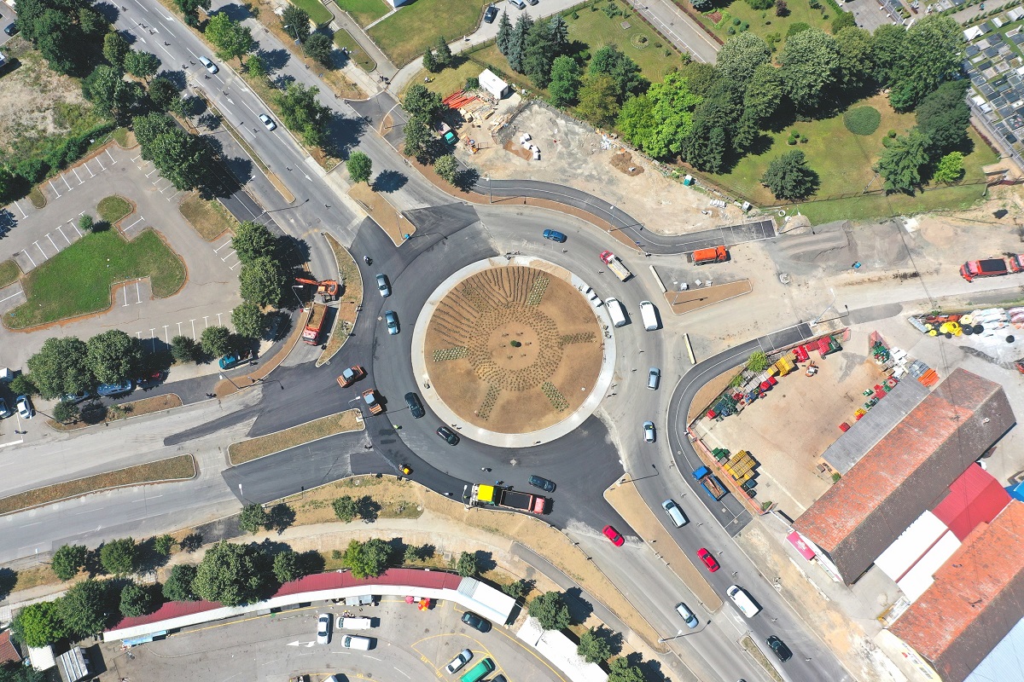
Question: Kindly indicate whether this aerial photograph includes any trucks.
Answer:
Yes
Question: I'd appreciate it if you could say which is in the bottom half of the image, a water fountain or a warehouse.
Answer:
warehouse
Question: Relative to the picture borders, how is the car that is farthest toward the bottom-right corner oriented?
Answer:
diagonally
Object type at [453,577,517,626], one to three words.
building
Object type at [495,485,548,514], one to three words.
truck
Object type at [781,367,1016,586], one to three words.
warehouse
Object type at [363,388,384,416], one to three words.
work vehicle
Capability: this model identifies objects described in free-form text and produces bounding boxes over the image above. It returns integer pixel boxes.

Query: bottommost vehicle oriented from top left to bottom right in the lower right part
[767,634,793,665]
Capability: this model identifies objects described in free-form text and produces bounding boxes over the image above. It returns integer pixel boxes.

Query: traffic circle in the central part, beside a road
[222,201,640,541]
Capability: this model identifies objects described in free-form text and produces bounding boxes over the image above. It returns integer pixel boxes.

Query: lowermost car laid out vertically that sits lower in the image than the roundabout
[315,613,330,645]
